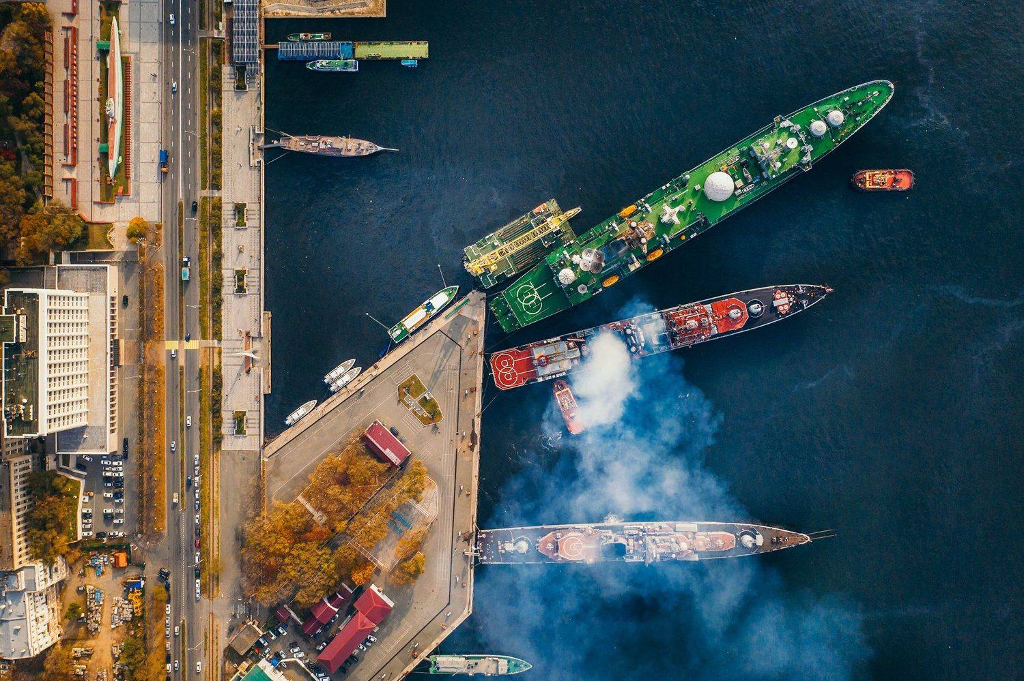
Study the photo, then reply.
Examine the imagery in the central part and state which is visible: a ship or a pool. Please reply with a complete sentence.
Visible in the central part is a ship.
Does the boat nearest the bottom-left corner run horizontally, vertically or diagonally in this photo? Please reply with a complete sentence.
The boat nearest the bottom-left corner has been laid out diagonally relative to the frame.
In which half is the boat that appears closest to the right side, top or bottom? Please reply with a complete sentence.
The top half of the photo is where the boat that appears closest to the right side is.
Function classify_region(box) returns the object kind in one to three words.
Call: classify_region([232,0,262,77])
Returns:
building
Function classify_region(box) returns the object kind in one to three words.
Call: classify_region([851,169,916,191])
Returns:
boat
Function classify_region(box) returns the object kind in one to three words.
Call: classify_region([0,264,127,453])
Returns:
building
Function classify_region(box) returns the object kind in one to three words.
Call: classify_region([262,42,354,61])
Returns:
pier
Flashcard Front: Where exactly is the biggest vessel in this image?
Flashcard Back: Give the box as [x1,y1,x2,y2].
[480,79,895,353]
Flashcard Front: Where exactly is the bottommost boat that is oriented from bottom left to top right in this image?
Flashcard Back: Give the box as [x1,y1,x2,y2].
[284,401,317,425]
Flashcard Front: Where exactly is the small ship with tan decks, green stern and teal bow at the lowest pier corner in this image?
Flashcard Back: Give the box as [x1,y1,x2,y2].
[407,651,532,677]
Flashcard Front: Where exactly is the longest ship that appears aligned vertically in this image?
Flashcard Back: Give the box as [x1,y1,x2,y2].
[106,16,126,179]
